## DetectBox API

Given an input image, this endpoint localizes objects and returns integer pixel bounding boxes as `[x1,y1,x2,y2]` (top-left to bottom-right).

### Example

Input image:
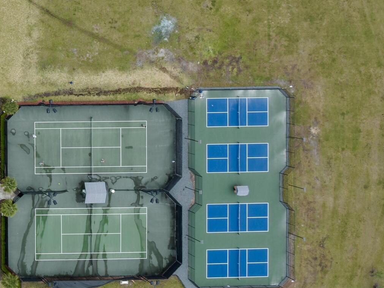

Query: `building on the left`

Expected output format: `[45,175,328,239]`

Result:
[81,181,107,204]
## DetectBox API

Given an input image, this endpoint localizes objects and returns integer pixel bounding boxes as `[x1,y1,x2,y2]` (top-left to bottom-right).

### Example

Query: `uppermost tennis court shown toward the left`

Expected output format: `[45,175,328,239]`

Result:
[11,105,176,193]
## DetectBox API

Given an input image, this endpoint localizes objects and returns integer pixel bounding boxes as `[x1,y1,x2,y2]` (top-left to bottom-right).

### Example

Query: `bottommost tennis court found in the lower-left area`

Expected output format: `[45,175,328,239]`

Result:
[11,192,176,278]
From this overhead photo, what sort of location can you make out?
sports ground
